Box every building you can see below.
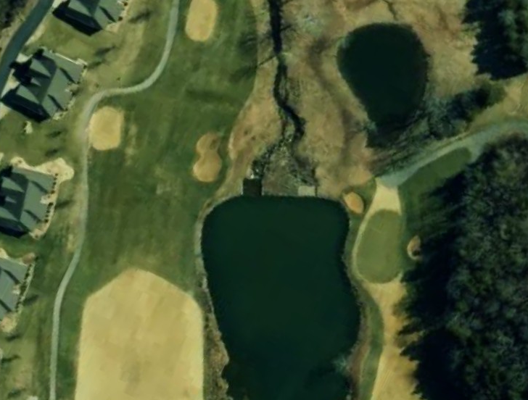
[67,0,126,35]
[0,159,56,232]
[0,253,27,323]
[15,45,84,121]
